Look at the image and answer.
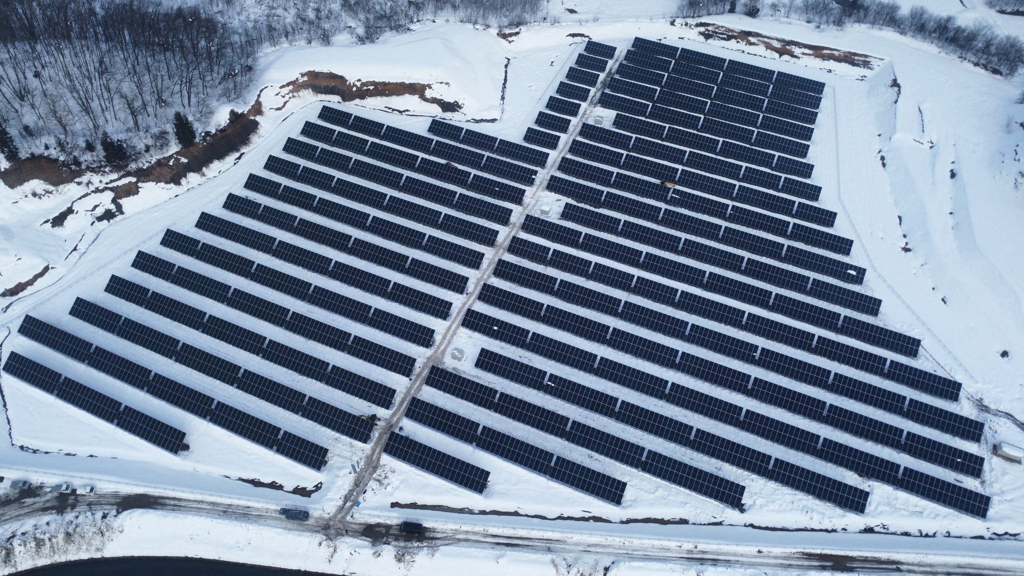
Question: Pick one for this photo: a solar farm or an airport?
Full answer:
It's a solar farm.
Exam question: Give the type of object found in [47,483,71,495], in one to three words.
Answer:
vehicle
